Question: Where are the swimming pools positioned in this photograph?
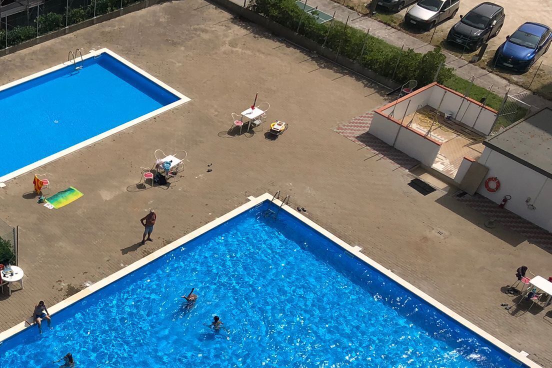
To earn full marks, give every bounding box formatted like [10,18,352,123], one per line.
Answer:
[0,48,191,188]
[0,193,543,368]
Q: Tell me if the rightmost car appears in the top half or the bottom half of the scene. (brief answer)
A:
top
